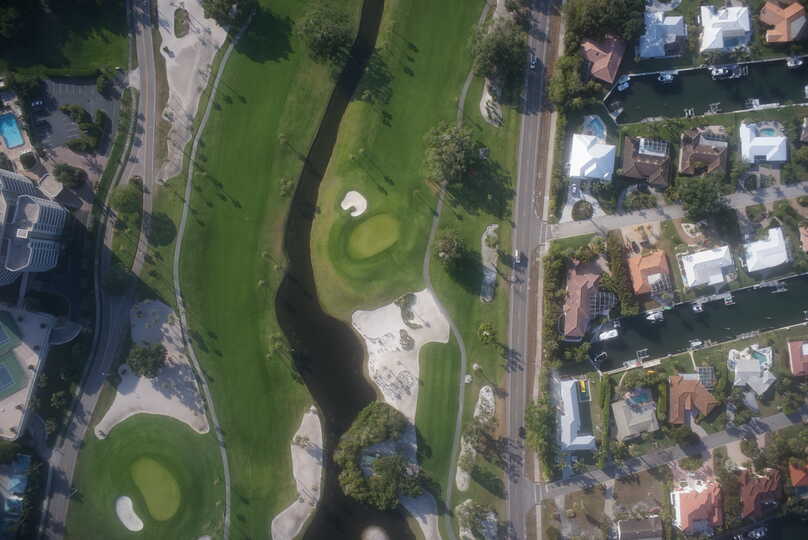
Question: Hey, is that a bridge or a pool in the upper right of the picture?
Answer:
pool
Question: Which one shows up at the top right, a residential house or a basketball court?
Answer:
residential house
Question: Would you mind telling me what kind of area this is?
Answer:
golf course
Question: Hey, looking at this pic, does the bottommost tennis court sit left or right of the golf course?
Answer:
on its left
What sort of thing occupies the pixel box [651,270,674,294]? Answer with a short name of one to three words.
swimming pool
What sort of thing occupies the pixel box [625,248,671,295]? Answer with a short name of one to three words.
house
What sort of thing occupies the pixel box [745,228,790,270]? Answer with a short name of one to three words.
house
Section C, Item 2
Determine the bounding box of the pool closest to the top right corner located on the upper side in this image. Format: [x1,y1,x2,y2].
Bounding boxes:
[721,30,752,50]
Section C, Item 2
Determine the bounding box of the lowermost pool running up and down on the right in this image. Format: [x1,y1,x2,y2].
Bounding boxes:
[577,378,593,436]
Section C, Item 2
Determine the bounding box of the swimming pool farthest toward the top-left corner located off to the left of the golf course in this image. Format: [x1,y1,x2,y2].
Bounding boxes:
[0,98,35,168]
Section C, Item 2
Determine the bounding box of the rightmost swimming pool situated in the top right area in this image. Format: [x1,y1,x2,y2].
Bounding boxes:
[754,120,785,137]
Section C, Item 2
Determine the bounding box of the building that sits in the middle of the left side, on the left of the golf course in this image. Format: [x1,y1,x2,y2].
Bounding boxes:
[0,163,67,287]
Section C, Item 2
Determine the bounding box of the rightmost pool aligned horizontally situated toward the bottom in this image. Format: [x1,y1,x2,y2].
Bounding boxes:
[728,345,773,368]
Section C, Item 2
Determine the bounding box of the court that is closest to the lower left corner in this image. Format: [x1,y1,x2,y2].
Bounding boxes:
[0,354,28,397]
